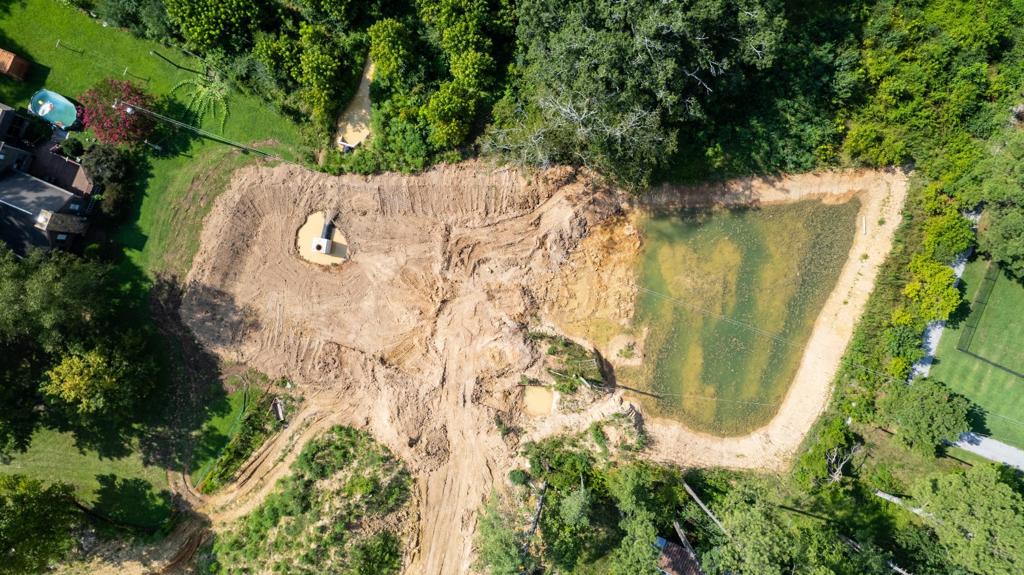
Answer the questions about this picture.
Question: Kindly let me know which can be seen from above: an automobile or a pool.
pool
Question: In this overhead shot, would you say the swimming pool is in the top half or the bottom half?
top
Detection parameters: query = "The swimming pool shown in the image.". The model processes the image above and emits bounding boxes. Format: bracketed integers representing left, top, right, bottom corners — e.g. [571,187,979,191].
[27,86,86,135]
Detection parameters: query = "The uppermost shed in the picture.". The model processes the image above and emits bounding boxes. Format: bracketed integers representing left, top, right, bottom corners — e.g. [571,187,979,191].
[0,49,36,83]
